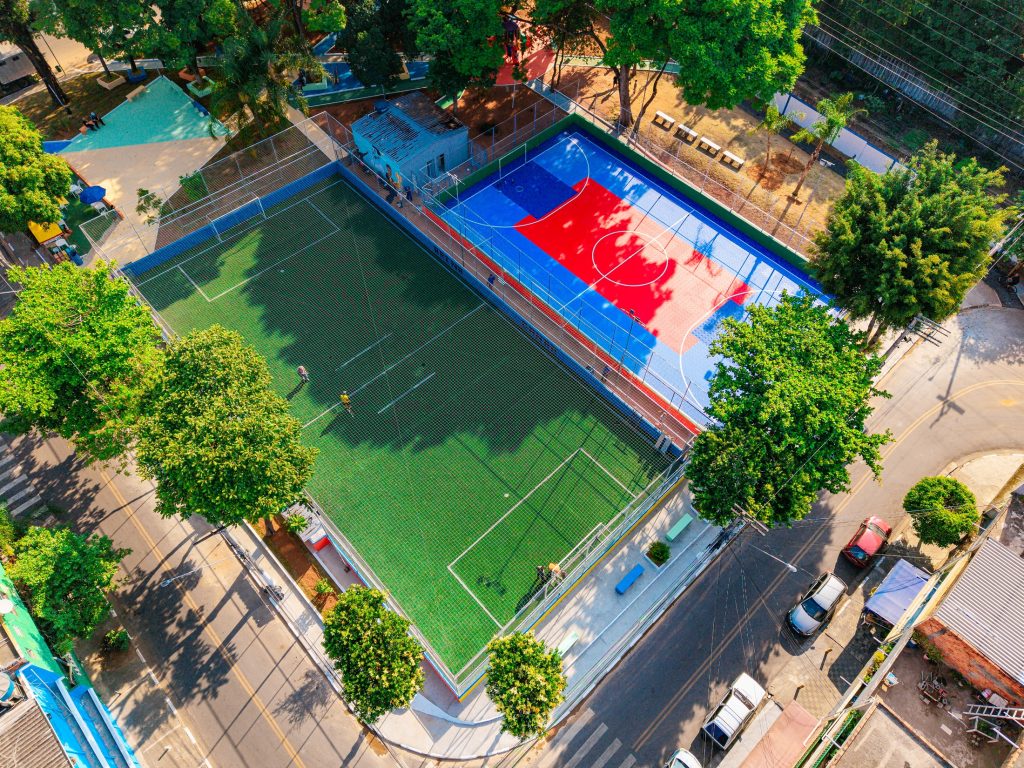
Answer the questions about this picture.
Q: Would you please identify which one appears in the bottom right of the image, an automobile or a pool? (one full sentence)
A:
The one visible in the bottom right of the image is an automobile.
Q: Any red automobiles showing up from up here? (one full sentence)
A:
Yes, a red automobile can be made out from above.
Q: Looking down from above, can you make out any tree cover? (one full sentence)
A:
Yes, the picture does contain tree cover.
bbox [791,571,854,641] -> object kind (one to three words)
car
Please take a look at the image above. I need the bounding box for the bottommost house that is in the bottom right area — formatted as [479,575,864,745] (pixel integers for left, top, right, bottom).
[828,697,960,768]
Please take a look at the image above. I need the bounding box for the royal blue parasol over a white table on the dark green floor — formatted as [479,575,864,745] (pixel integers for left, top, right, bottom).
[75,185,112,215]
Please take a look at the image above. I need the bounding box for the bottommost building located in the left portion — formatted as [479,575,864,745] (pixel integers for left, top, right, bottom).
[0,669,144,768]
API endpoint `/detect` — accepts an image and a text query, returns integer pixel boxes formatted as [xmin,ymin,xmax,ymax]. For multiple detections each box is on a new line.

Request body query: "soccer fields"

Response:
[127,172,680,686]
